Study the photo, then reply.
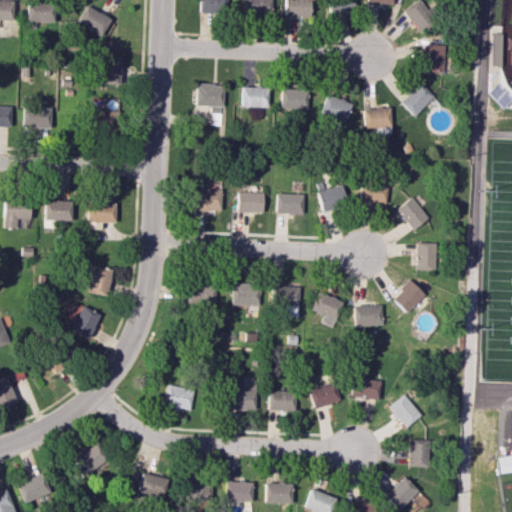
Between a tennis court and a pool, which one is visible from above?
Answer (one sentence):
Visible in the photo is a pool.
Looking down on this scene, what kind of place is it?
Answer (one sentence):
The picture captures a residential area.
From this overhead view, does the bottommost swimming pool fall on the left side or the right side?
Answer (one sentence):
The bottommost swimming pool is on the right side of the image.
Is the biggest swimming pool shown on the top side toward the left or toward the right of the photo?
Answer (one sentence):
The biggest swimming pool shown on the top side sits on the right side.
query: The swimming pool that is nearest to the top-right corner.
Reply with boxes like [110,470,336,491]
[426,106,456,136]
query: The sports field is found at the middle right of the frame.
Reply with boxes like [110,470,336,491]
[482,142,512,381]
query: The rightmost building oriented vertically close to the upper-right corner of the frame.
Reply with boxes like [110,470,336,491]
[492,32,504,72]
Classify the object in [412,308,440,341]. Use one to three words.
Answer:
swimming pool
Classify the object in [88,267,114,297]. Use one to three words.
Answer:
house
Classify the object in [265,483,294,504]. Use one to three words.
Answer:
house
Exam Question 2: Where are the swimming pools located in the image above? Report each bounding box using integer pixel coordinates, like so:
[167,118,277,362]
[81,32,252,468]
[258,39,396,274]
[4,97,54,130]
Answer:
[106,98,119,111]
[426,106,456,136]
[412,308,440,341]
